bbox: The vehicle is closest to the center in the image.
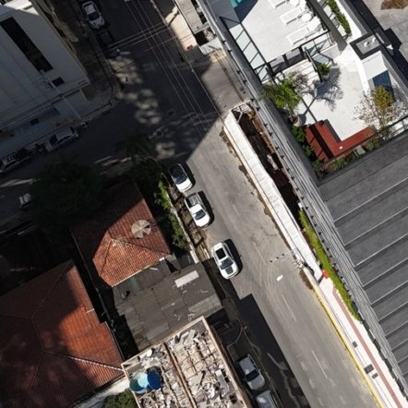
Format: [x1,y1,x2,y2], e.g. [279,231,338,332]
[178,187,214,233]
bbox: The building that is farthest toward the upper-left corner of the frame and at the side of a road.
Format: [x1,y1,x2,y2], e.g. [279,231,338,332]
[0,0,102,159]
